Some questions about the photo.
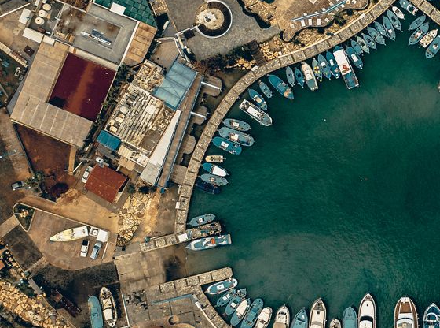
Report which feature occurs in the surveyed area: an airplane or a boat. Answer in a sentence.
It is a boat that can be seen here.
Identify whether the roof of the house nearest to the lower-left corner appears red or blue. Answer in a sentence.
From above, the roof of the house nearest to the lower-left corner appears red.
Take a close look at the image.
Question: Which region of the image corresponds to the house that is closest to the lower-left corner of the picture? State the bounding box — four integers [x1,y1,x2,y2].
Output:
[85,165,130,203]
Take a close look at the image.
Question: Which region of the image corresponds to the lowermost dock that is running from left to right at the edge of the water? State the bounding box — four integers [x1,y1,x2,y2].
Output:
[154,267,235,295]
